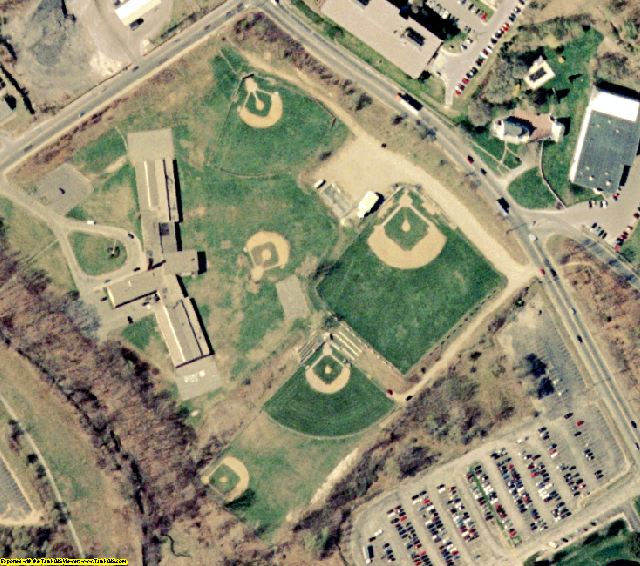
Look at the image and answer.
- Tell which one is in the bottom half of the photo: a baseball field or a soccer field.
baseball field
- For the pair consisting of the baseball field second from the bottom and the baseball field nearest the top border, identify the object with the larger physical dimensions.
the baseball field second from the bottom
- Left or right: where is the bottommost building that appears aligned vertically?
left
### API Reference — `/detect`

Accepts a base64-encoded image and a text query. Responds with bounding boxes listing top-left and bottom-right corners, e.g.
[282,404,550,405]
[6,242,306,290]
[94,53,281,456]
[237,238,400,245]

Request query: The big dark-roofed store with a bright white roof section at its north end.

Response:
[569,92,640,197]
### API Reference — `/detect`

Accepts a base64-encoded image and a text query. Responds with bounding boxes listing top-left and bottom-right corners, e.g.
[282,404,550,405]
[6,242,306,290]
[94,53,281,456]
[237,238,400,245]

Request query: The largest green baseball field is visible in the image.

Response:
[319,187,508,375]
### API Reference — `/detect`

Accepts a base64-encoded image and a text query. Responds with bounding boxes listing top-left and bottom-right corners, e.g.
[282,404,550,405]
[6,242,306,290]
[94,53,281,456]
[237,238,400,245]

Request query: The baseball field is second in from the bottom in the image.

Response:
[263,338,394,437]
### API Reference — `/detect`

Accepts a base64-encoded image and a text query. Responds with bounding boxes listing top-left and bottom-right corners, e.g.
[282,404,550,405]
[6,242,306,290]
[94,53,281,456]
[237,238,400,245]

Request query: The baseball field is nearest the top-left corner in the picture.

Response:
[238,77,282,128]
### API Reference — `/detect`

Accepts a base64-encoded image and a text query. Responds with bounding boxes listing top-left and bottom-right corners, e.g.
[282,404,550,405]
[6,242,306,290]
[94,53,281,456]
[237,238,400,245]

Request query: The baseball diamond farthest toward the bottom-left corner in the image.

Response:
[201,456,249,502]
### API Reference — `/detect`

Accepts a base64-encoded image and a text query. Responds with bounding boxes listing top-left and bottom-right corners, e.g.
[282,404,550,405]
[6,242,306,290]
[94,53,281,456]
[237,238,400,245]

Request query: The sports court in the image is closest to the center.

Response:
[276,277,311,320]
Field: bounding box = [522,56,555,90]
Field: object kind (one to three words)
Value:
house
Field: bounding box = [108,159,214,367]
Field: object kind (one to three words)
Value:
building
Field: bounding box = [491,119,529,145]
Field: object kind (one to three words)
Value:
house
